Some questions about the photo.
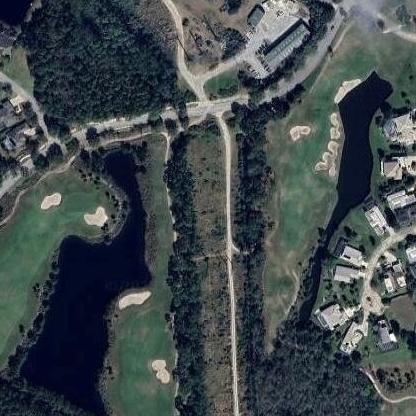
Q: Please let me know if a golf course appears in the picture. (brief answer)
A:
Yes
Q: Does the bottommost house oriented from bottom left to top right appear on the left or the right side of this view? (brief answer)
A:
right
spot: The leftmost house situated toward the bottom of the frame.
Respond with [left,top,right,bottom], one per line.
[312,302,346,335]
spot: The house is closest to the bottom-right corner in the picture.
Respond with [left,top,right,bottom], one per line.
[375,321,396,354]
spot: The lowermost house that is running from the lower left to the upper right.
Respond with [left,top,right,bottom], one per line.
[338,321,365,352]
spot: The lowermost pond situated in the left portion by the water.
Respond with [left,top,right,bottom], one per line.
[20,149,151,414]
